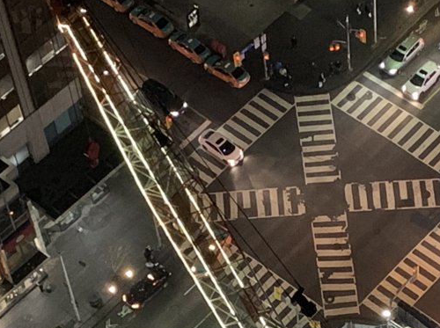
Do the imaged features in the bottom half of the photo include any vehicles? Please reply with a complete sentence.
Yes, in the bottom half of the photo there is a vehicle.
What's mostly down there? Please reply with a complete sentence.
Most of the picture is covered by paved ground.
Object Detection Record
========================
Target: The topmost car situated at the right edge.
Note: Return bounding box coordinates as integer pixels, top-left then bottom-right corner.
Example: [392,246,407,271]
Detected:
[380,32,426,76]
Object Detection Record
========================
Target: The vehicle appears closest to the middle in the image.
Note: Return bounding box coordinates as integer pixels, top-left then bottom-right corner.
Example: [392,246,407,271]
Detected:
[198,127,244,170]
